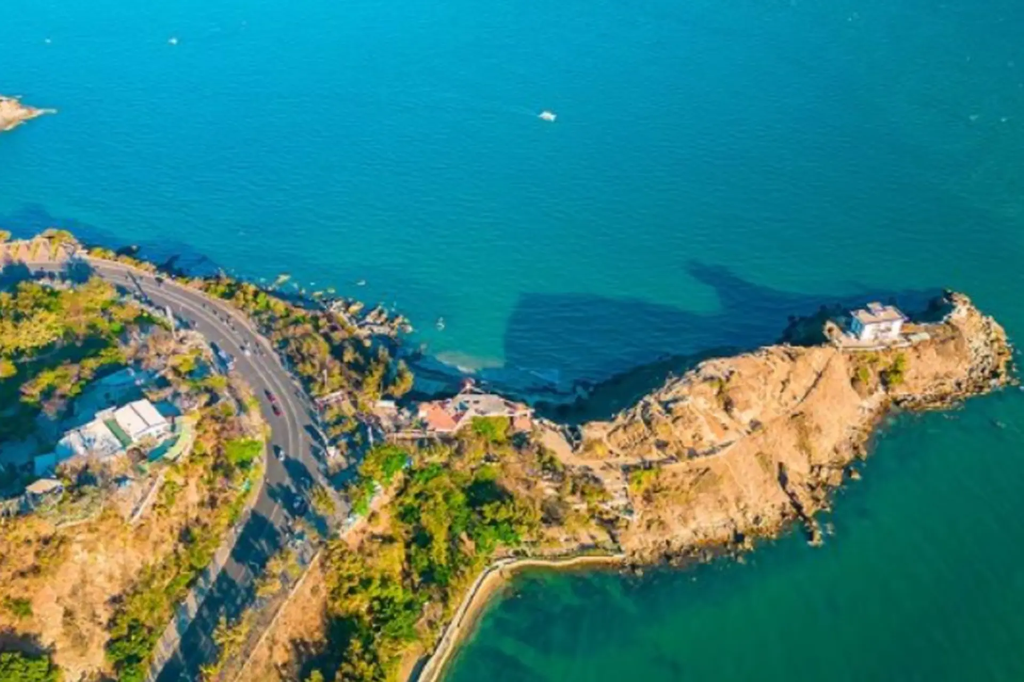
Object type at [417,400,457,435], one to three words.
building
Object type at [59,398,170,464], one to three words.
house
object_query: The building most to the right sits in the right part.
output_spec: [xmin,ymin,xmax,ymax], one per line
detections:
[839,303,914,348]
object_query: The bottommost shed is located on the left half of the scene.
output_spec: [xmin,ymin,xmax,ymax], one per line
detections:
[26,479,66,500]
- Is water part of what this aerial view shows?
Yes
